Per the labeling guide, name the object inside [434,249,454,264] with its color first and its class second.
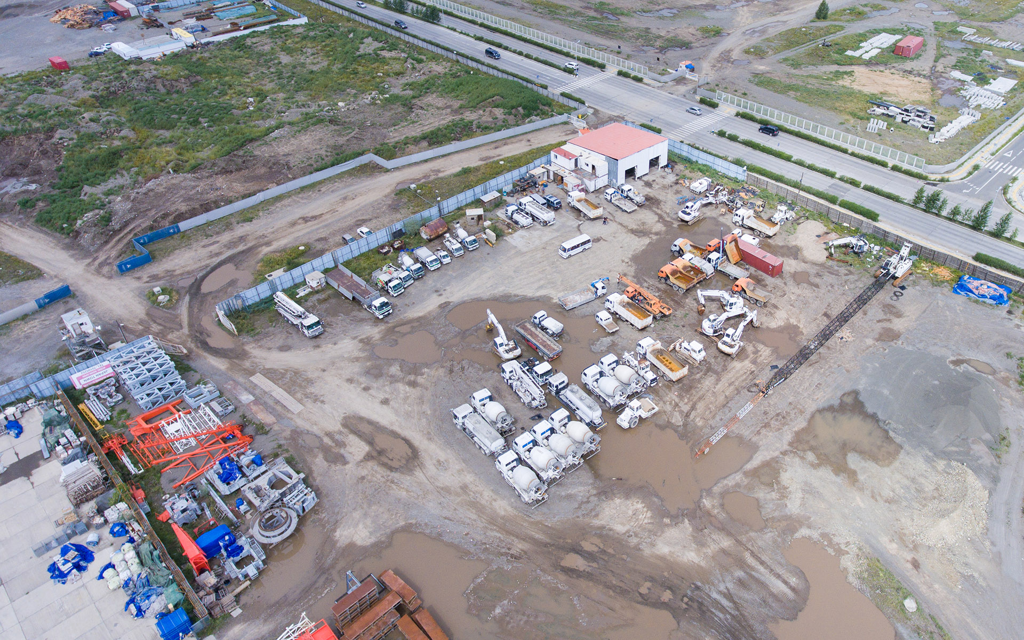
white vehicle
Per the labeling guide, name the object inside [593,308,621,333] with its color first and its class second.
white truck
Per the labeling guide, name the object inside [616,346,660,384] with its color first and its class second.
white work vehicle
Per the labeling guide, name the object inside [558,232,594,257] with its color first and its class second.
white vehicle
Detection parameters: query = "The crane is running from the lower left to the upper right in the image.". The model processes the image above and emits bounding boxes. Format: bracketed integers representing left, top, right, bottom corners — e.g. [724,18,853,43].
[694,237,920,459]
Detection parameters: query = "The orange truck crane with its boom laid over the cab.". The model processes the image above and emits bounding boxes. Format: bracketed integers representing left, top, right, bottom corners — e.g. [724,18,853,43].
[621,270,676,318]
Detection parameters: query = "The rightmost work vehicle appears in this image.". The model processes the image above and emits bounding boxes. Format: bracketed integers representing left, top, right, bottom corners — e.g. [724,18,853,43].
[826,232,880,265]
